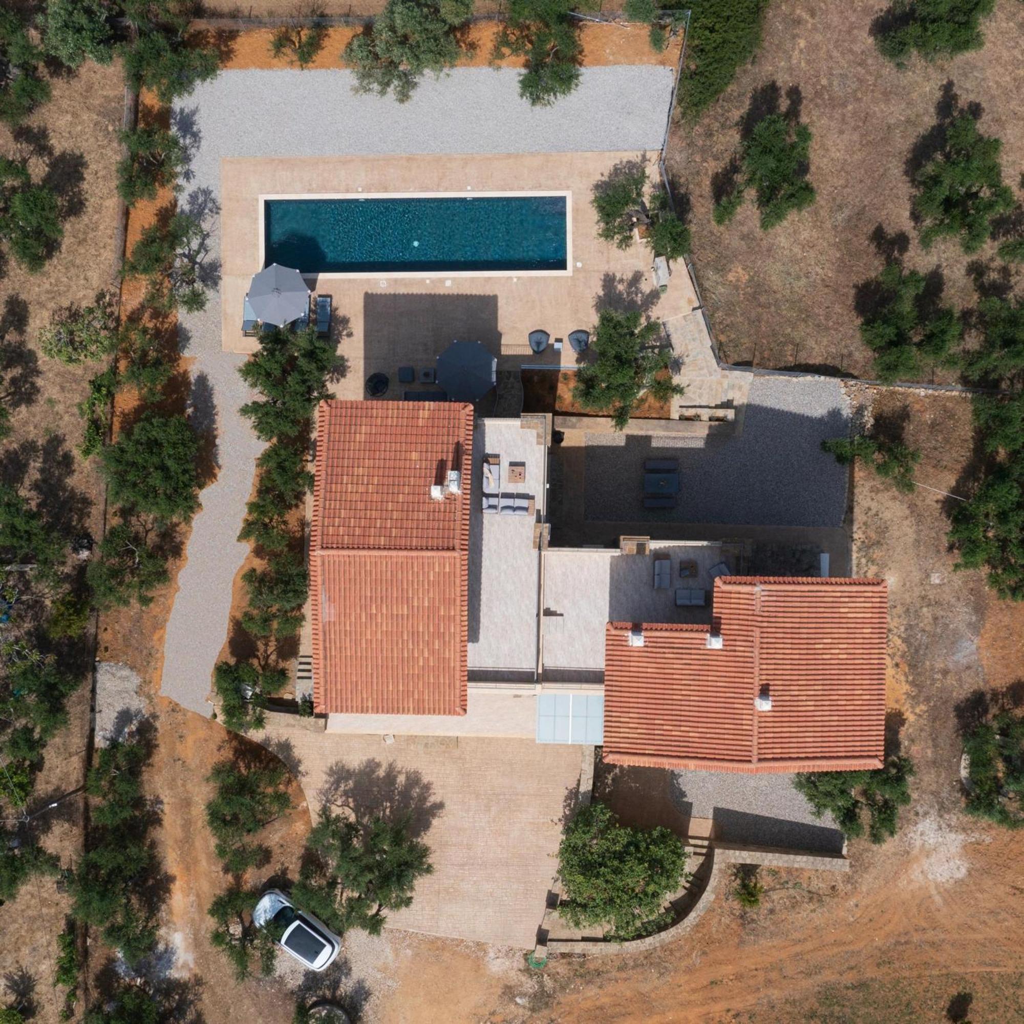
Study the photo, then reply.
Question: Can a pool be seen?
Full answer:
Yes, the photo shows a pool.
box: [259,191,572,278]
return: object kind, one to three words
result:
swimming pool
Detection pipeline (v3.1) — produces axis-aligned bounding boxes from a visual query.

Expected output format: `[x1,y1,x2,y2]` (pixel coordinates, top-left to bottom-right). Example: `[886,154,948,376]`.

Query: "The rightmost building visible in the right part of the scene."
[535,537,894,775]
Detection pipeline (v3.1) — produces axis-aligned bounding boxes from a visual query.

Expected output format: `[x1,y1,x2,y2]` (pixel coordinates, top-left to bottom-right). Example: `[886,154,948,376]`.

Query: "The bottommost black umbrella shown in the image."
[436,340,497,401]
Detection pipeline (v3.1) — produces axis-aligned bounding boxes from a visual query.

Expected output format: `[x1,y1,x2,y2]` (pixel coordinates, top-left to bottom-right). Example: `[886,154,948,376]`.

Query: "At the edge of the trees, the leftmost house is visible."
[307,398,552,720]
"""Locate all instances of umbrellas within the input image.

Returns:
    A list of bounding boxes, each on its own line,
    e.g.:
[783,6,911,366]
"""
[247,264,311,328]
[436,340,497,401]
